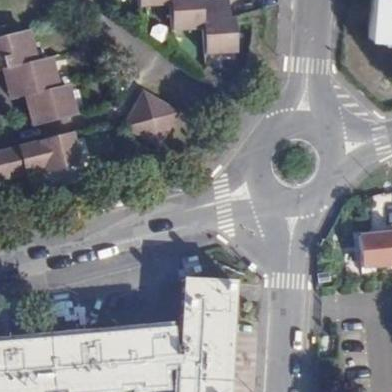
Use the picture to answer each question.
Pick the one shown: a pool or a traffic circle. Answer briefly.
traffic circle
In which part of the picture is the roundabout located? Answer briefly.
right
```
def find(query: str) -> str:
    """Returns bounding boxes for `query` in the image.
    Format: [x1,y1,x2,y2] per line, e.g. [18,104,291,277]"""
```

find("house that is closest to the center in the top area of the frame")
[127,88,178,148]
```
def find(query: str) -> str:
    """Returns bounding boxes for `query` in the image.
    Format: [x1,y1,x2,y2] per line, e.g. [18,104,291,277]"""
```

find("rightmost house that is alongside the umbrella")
[174,0,208,29]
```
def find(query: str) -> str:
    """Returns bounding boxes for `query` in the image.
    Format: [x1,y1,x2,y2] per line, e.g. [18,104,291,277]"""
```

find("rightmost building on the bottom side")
[352,228,392,274]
